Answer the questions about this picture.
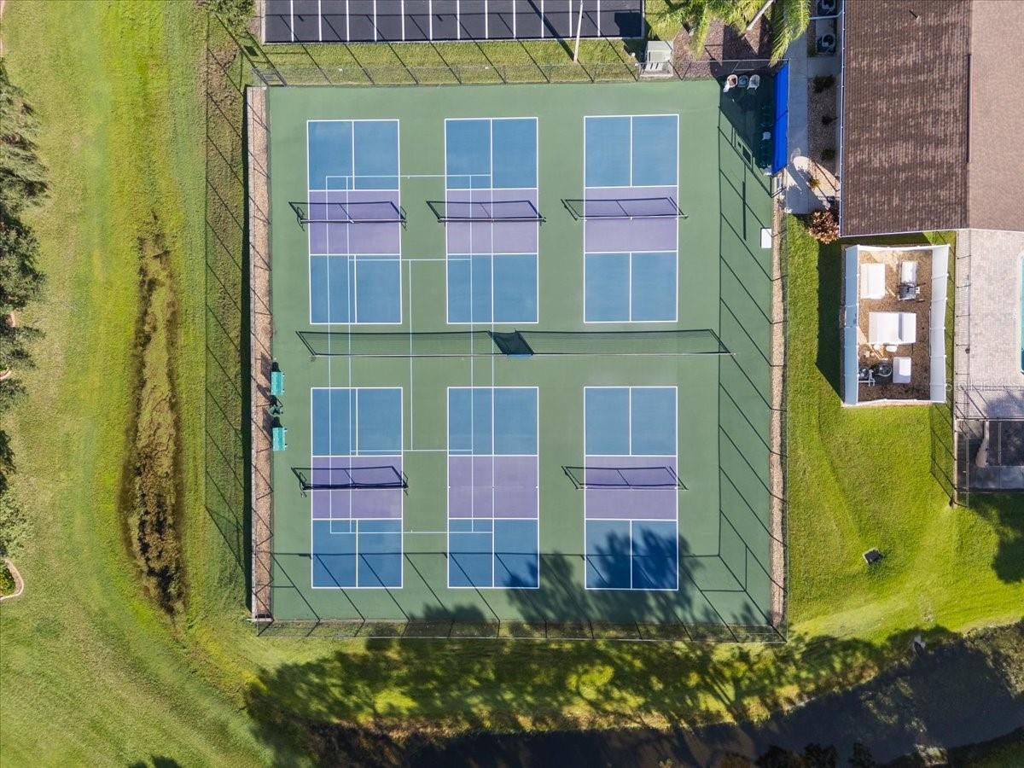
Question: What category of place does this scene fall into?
sports ground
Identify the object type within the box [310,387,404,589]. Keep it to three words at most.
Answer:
sports court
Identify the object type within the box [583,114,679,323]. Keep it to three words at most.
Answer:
sports court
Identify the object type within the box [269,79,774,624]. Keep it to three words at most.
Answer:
tennis court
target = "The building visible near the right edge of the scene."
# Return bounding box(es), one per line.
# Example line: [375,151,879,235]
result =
[834,0,1024,236]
